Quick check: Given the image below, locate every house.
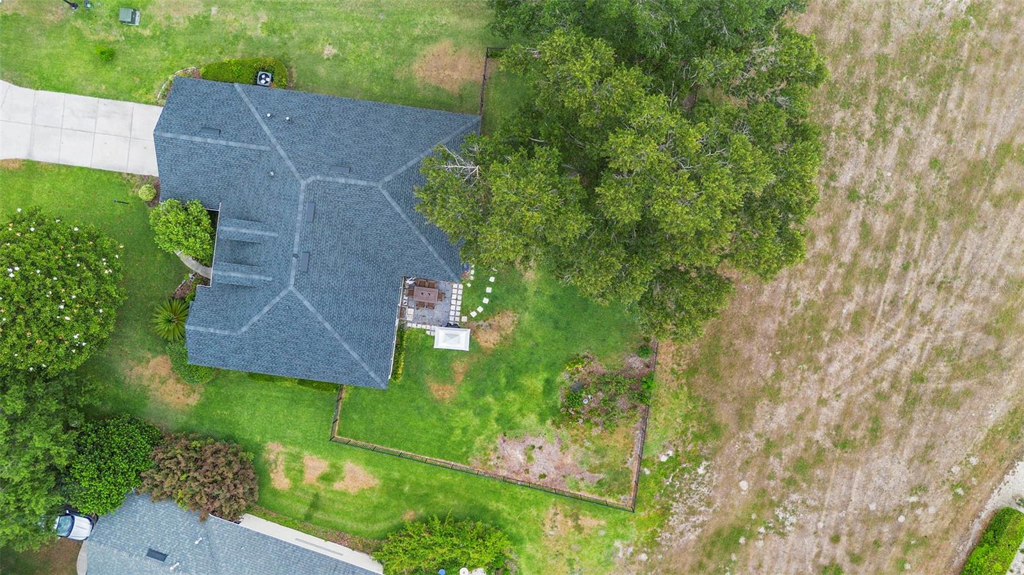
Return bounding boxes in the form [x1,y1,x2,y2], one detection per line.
[155,76,482,391]
[87,490,385,575]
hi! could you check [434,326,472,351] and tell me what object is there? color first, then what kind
white gazebo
